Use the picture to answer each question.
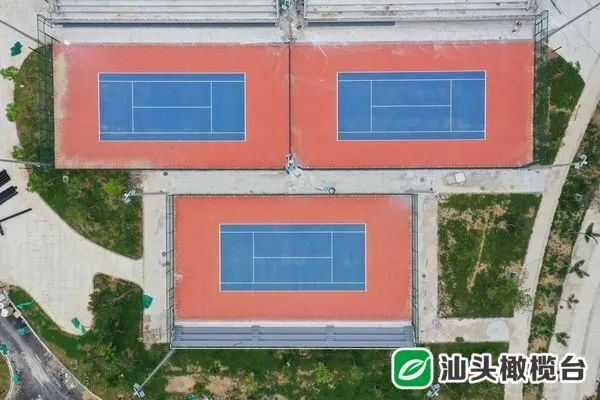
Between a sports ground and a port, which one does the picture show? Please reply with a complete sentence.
This image shows a sports ground.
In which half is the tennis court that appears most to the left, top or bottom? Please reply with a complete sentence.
The top half of the photo is where the tennis court that appears most to the left is.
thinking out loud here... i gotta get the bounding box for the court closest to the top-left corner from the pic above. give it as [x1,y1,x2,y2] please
[52,43,289,168]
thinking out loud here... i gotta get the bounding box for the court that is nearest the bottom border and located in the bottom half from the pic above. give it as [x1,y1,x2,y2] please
[173,195,412,320]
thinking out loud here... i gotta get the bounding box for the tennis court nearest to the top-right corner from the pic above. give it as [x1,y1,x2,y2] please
[291,41,534,167]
